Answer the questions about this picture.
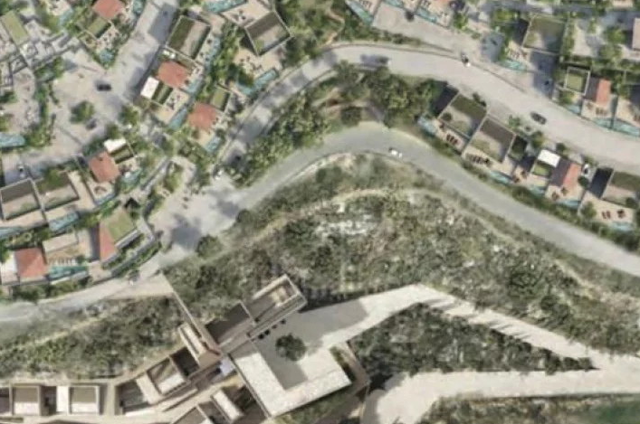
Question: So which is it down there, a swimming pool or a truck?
swimming pool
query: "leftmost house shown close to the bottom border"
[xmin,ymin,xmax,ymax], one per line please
[13,385,40,414]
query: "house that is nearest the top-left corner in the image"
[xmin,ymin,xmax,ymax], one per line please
[1,10,29,45]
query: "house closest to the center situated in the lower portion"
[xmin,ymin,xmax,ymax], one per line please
[243,276,307,337]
